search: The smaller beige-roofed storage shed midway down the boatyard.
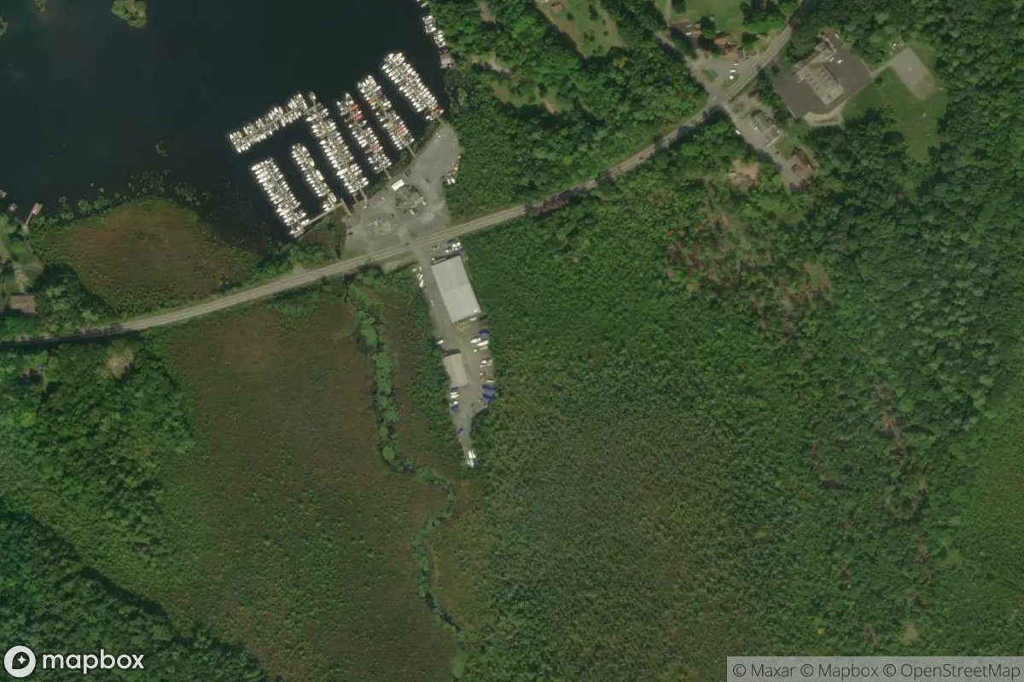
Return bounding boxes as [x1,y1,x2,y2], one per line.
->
[444,352,469,387]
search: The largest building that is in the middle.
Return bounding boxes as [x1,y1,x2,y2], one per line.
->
[431,255,481,322]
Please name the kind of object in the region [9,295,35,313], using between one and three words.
house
